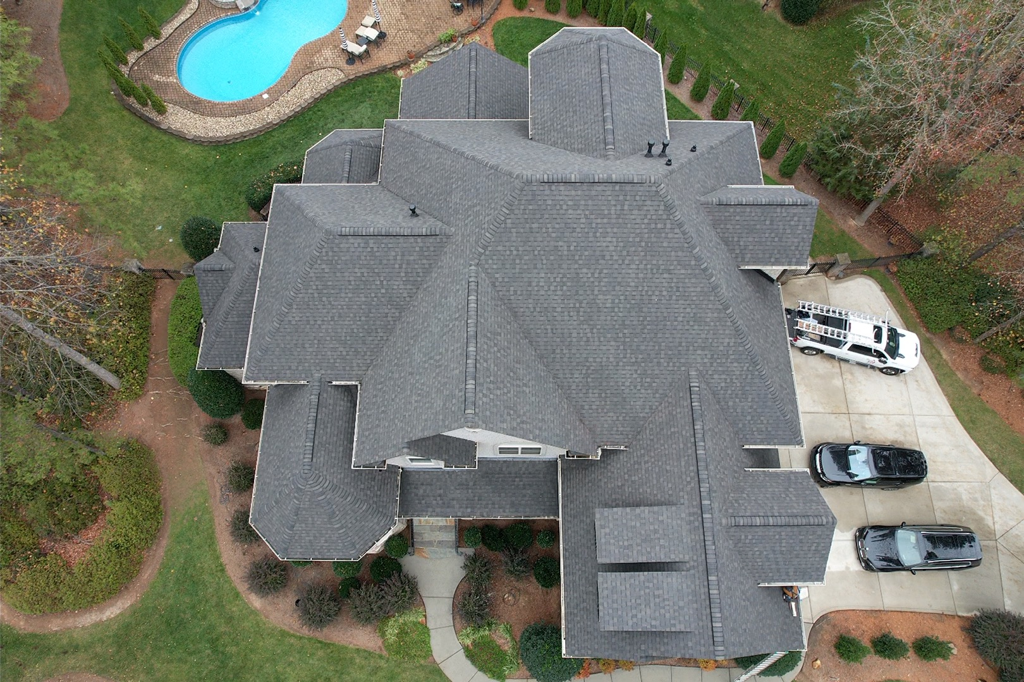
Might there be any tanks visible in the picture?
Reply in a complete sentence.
No, the photo shows no tank.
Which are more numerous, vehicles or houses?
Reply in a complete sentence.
Fewer houses than vehicles are visible.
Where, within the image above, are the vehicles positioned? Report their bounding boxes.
[776,296,918,376]
[852,517,983,578]
[807,435,930,492]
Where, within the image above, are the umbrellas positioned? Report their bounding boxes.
[374,0,387,40]
[340,26,356,64]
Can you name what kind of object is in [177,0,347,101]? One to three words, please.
swimming pool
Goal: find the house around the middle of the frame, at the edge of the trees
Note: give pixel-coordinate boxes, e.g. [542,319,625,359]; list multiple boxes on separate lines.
[192,25,837,659]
